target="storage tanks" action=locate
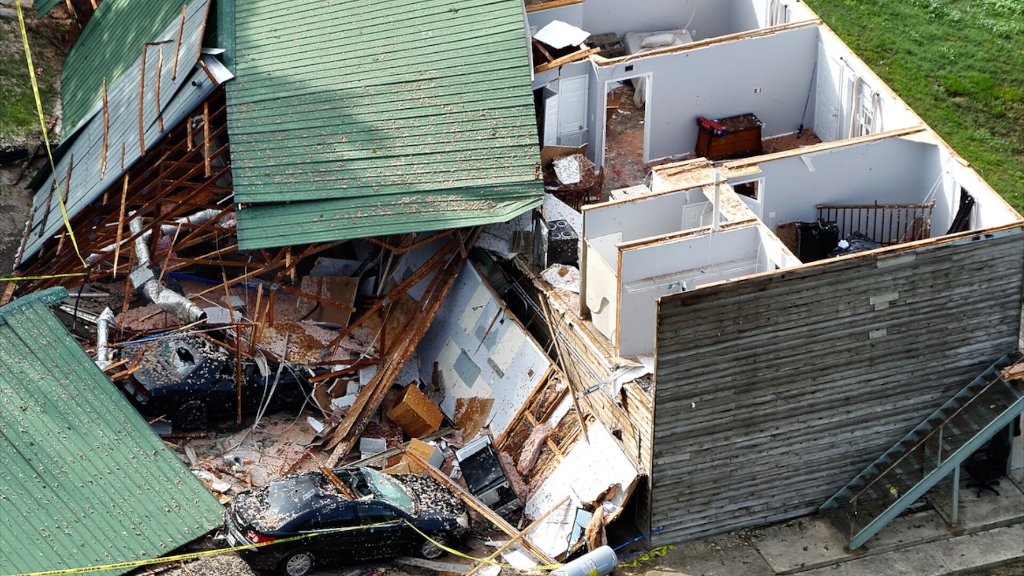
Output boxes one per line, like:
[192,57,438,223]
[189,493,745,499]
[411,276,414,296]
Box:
[535,544,614,576]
